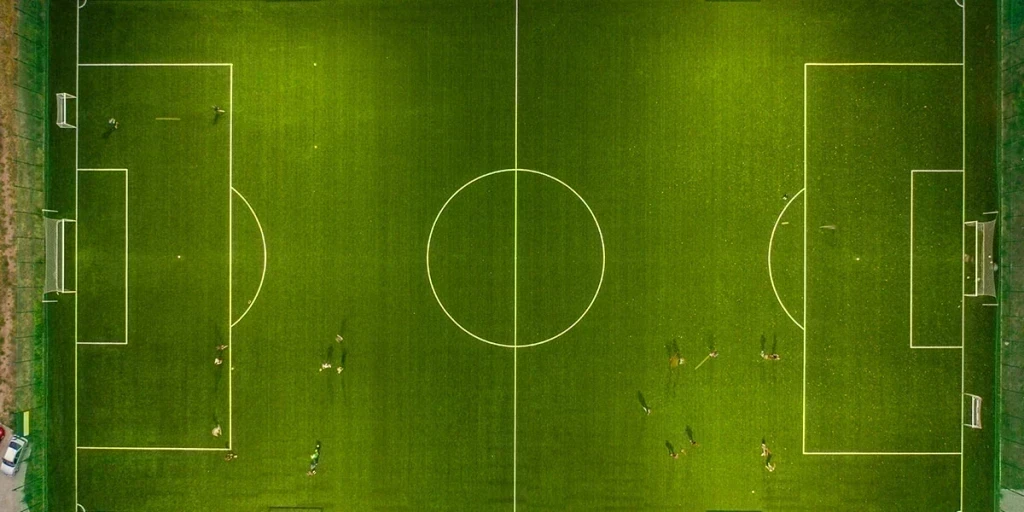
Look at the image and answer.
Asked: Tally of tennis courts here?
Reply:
0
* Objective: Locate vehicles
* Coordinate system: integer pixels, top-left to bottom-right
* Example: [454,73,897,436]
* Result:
[0,434,29,475]
[0,423,7,445]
